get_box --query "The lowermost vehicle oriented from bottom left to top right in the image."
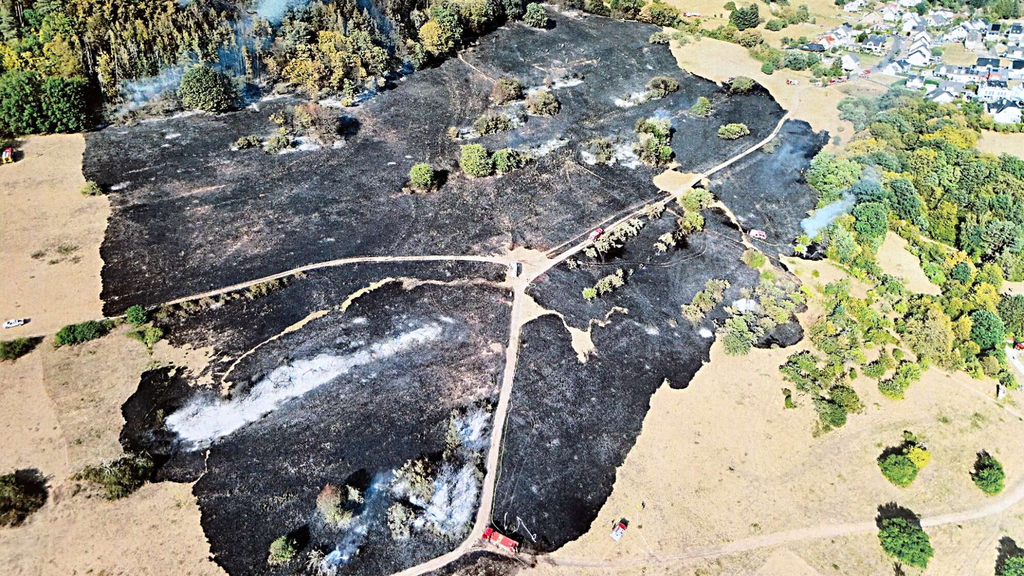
[610,519,629,540]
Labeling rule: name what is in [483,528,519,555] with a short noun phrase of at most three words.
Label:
truck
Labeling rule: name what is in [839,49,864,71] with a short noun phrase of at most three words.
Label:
house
